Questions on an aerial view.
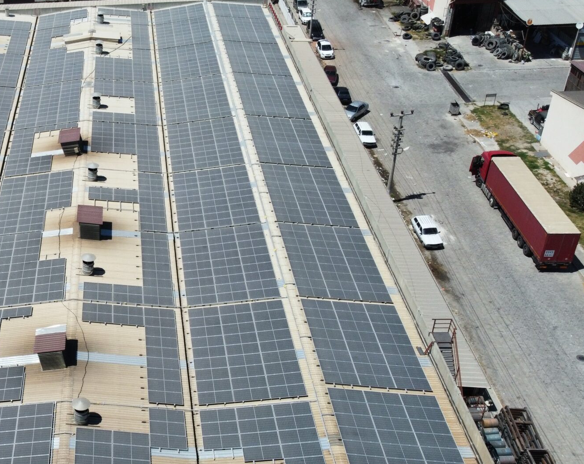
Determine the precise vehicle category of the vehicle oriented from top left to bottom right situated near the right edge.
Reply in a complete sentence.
In the photo, the vehicle oriented from top left to bottom right situated near the right edge shows up as a truck.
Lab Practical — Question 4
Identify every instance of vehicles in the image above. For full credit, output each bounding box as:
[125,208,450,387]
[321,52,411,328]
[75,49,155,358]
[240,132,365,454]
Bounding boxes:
[467,150,581,270]
[305,18,325,39]
[347,97,375,118]
[520,103,550,122]
[413,212,445,247]
[357,120,378,147]
[294,0,312,10]
[317,38,336,56]
[333,83,354,102]
[323,64,341,82]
